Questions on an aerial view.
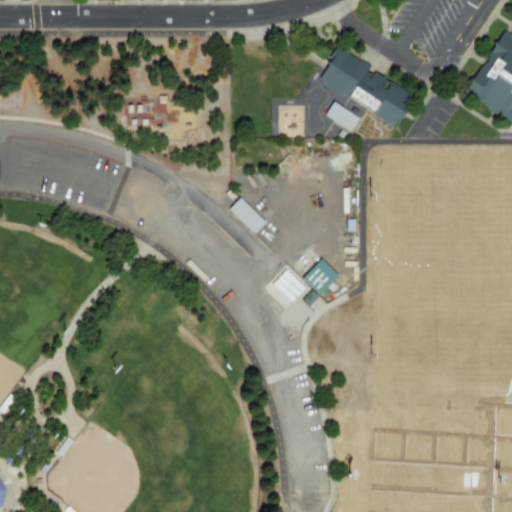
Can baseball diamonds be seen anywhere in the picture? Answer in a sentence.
Yes, the frame does contain a baseball diamond.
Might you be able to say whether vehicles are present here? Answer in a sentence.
Yes, a vehicle is visible in the scene.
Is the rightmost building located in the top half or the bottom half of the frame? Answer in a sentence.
Seen from above, the rightmost building lies in the top half of the view.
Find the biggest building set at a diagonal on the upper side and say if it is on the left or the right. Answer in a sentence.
You can find the biggest building set at a diagonal on the upper side on the right side of the picture.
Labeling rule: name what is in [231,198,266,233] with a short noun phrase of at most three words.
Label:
shed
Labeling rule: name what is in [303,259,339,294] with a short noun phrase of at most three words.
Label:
building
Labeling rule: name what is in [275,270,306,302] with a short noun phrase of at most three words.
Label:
building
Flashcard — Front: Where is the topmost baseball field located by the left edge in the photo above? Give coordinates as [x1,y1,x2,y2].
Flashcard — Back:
[0,352,25,408]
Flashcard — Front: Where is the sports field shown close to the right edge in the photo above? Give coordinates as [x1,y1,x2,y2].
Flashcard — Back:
[308,142,512,512]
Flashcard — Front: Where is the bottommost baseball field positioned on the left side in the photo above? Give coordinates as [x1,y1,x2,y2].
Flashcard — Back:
[48,422,138,512]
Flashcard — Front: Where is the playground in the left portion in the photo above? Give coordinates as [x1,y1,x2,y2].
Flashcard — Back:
[124,96,200,137]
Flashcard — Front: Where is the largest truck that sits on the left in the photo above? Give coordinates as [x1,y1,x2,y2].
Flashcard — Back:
[188,260,214,284]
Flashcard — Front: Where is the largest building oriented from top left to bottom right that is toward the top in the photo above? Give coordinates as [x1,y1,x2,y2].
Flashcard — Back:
[322,48,411,128]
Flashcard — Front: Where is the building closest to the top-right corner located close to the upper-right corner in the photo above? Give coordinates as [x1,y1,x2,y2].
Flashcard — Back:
[470,31,512,121]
